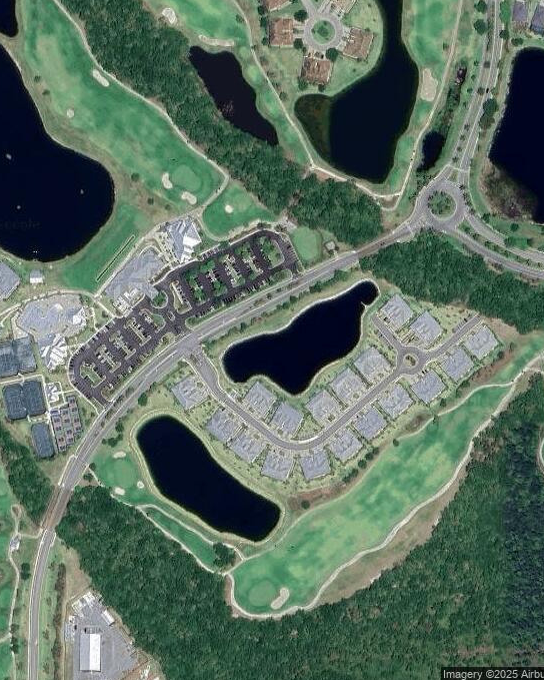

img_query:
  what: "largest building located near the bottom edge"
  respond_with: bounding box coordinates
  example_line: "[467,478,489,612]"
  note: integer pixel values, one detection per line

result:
[80,634,101,671]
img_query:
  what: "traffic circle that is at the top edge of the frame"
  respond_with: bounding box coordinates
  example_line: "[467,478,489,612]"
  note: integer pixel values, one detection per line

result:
[302,12,344,54]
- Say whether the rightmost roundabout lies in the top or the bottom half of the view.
top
